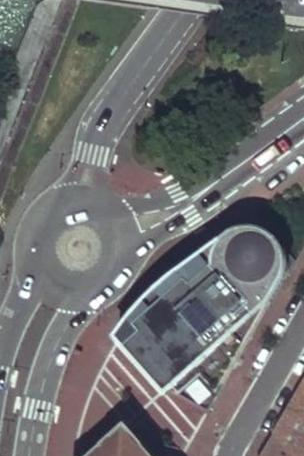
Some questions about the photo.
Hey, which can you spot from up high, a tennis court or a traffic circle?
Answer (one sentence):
It is a traffic circle that can be seen here.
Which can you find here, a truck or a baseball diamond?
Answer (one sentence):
Looking from above, you can make out a truck.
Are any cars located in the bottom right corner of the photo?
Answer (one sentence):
Yes, a car shows up in the bottom right corner of the photo.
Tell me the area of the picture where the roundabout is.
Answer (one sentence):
The roundabout appears toward the left of the photo.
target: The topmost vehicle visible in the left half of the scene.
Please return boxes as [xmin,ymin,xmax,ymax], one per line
[96,106,113,131]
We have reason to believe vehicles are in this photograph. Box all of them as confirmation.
[265,171,288,190]
[261,410,278,432]
[54,343,70,367]
[135,238,157,258]
[66,212,89,224]
[284,295,302,316]
[252,346,270,370]
[18,275,36,300]
[290,354,304,378]
[270,316,290,337]
[86,284,115,312]
[111,265,134,288]
[96,106,113,131]
[166,213,186,231]
[200,190,222,208]
[283,156,304,174]
[249,134,296,173]
[68,310,90,329]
